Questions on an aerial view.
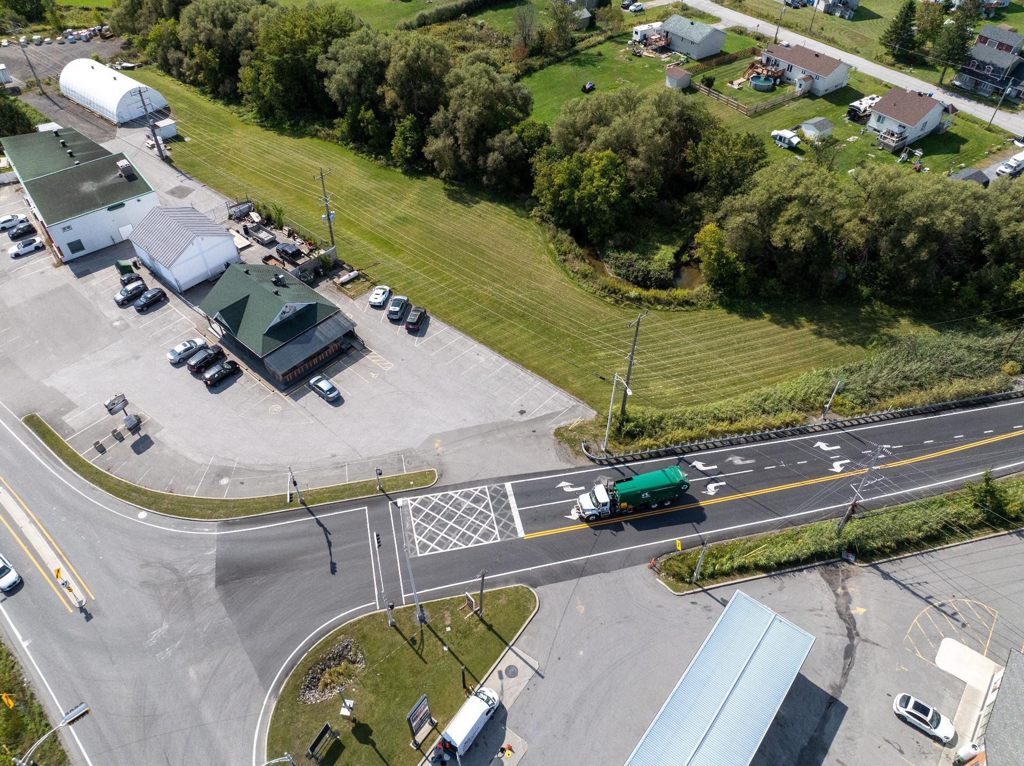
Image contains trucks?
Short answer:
Yes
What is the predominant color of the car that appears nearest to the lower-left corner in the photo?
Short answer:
white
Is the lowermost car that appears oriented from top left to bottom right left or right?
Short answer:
right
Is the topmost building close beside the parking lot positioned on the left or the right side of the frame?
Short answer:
left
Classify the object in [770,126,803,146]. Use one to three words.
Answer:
vehicle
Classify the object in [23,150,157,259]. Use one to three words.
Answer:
building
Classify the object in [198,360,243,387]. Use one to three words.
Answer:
car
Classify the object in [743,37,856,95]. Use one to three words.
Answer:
house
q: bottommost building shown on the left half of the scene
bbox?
[166,264,365,390]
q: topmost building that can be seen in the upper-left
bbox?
[57,53,169,125]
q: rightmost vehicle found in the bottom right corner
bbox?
[889,693,955,744]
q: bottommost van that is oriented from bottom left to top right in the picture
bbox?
[432,689,505,766]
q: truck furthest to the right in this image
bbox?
[996,147,1024,175]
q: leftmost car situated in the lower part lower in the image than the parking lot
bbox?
[0,558,20,594]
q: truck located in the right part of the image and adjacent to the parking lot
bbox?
[572,464,698,522]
